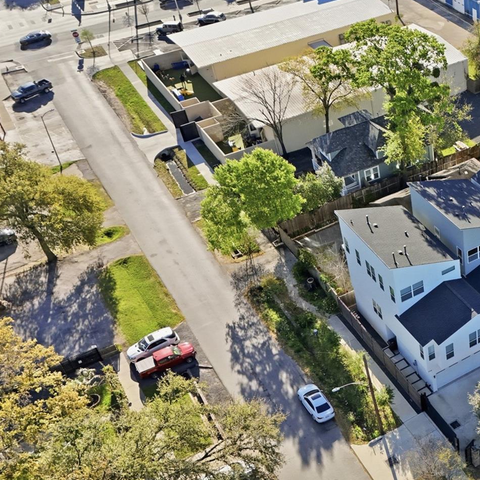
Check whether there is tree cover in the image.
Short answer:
Yes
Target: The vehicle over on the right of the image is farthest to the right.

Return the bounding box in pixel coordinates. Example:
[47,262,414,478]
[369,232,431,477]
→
[294,380,337,424]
